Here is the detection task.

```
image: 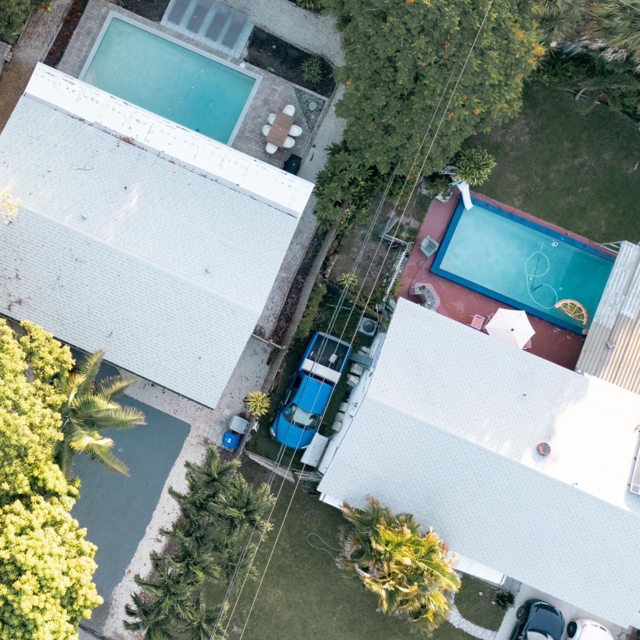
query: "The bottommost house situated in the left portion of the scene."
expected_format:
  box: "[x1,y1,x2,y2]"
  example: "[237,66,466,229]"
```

[0,59,317,410]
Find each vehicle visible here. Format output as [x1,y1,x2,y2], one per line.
[563,612,621,640]
[502,593,566,640]
[272,317,361,449]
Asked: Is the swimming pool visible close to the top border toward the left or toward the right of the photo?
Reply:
left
